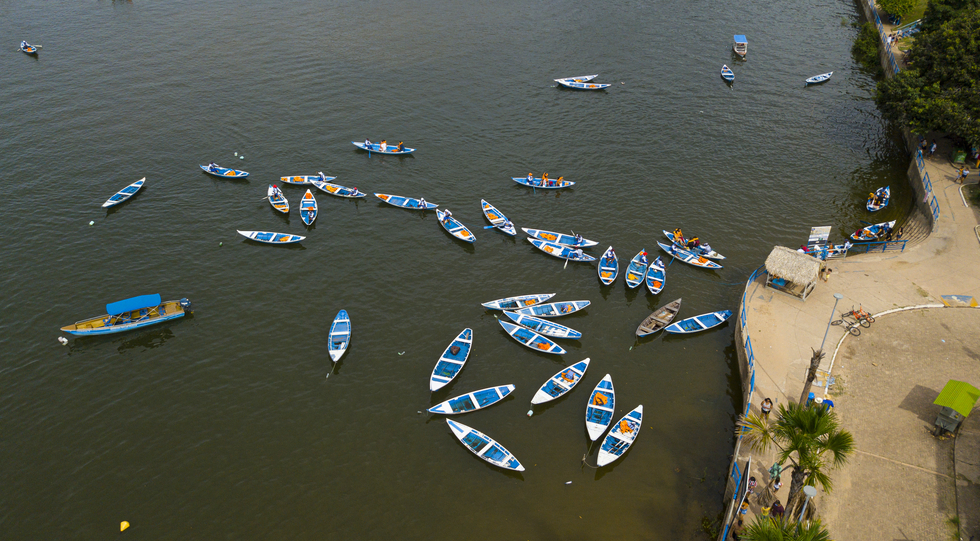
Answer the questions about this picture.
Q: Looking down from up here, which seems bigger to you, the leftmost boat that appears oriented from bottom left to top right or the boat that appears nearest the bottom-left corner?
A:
the boat that appears nearest the bottom-left corner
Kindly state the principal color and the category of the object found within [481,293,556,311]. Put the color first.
white boat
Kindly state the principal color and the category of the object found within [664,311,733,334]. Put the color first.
blue boat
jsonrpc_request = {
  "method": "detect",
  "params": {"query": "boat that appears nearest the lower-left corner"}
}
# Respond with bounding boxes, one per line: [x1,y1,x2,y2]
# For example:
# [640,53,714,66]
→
[59,291,196,334]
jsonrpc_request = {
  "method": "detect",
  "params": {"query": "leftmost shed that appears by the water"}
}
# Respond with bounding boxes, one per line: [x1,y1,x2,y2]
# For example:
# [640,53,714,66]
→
[765,242,826,300]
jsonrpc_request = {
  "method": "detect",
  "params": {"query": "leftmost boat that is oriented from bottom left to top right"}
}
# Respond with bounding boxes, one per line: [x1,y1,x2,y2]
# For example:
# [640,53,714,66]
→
[101,177,145,211]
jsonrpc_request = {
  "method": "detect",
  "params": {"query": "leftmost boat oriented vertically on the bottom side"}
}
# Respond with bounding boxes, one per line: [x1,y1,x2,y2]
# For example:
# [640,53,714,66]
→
[328,309,351,365]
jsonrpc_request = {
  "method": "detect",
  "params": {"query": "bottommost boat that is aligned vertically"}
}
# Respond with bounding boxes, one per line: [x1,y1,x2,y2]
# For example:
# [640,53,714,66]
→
[586,373,615,443]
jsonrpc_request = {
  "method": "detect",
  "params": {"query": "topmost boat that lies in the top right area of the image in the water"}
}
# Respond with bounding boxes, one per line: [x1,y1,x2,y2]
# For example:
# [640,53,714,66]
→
[732,28,748,61]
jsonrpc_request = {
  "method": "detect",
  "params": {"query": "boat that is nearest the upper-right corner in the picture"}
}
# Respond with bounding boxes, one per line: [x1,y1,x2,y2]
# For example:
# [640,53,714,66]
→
[806,72,834,86]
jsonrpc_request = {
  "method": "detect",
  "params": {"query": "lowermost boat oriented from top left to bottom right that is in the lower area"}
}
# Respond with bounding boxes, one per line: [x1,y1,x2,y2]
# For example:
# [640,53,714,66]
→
[447,418,524,473]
